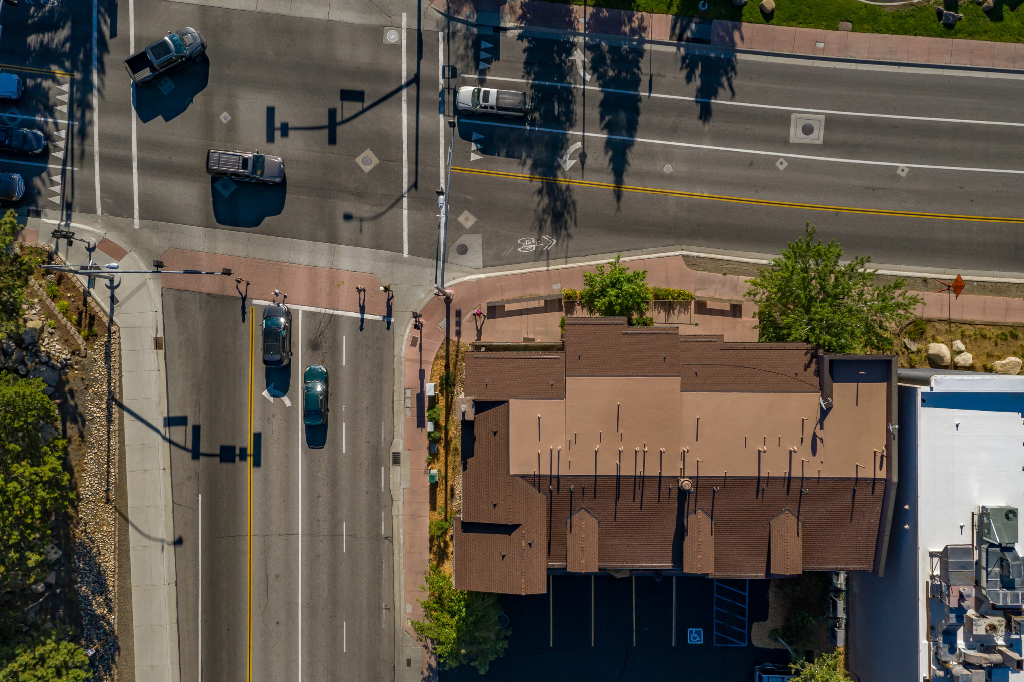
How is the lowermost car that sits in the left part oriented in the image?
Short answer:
vertically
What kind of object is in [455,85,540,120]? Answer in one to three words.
truck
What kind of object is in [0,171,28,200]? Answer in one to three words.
car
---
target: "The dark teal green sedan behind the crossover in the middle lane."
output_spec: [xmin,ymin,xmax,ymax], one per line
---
[300,364,329,425]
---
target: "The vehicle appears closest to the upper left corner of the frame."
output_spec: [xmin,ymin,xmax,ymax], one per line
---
[0,72,25,102]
